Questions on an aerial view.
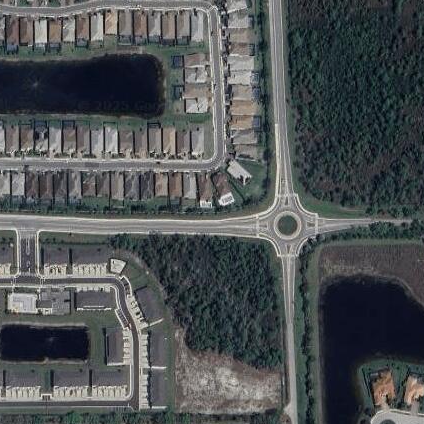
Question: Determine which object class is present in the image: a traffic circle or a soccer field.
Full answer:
Looking from above, you can make out a traffic circle.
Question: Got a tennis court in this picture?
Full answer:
No, the picture doesn't show any tennis court.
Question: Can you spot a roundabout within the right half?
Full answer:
Yes, there is a roundabout within the right half.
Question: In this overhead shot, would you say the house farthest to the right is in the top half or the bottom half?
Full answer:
The house farthest to the right sits in the bottom half of the picture.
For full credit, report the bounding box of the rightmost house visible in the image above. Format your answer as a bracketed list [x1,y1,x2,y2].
[404,371,424,405]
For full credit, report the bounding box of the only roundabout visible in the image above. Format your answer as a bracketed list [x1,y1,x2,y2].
[232,177,337,277]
